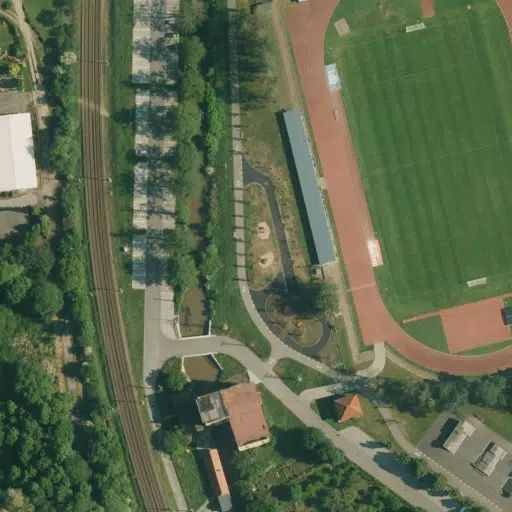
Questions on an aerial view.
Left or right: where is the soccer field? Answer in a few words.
right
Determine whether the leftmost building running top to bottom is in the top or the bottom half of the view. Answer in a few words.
top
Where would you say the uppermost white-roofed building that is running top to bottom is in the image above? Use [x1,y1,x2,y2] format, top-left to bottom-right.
[0,112,38,194]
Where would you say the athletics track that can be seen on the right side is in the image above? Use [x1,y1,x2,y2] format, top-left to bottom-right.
[284,0,512,376]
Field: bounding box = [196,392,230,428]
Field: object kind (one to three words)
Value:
building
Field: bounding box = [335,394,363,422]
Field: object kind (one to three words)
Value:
house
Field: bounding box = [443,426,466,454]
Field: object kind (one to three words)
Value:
building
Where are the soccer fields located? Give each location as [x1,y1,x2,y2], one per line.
[324,0,512,356]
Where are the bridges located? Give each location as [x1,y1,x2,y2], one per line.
[178,316,223,384]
